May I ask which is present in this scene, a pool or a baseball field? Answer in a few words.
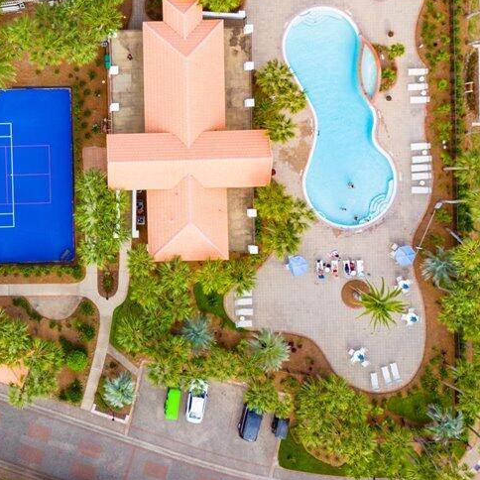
pool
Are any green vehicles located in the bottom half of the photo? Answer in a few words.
Yes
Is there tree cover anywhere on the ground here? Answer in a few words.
Yes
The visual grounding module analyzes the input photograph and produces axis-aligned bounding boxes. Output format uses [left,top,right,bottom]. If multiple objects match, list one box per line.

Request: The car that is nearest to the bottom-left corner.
[163,385,185,424]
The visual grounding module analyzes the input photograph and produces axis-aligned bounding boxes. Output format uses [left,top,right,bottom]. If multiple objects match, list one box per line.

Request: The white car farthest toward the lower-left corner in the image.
[186,381,210,429]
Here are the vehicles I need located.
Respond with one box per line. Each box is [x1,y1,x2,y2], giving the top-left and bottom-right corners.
[163,385,185,424]
[239,400,267,447]
[272,410,294,447]
[186,381,210,429]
